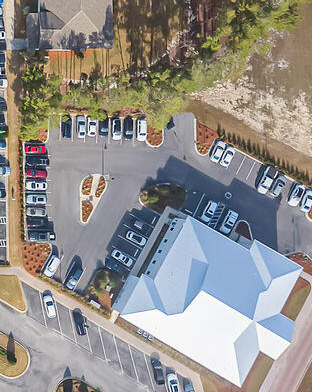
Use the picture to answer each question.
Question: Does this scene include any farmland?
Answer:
No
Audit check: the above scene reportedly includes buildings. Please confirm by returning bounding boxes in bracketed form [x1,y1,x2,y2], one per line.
[23,0,111,51]
[105,216,303,387]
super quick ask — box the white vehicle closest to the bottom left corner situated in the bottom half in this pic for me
[43,296,56,318]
